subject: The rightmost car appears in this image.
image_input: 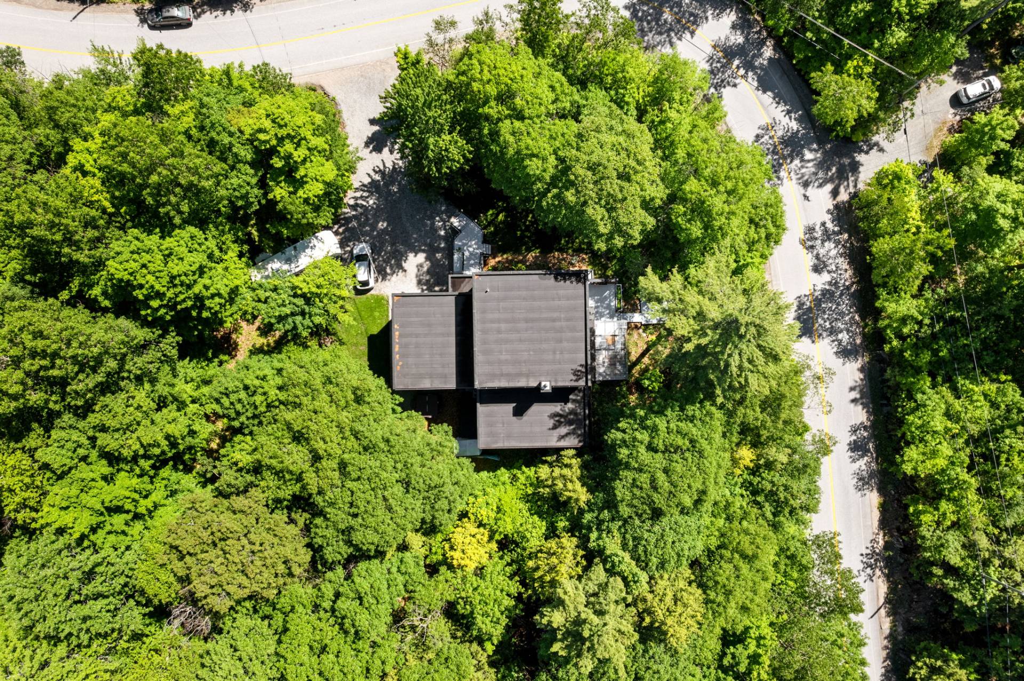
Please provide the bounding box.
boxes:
[953,73,1001,107]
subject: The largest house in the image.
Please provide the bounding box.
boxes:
[392,270,591,450]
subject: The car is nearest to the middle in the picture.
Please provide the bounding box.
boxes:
[352,245,376,291]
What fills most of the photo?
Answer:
trees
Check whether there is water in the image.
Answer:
No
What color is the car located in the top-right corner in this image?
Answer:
white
